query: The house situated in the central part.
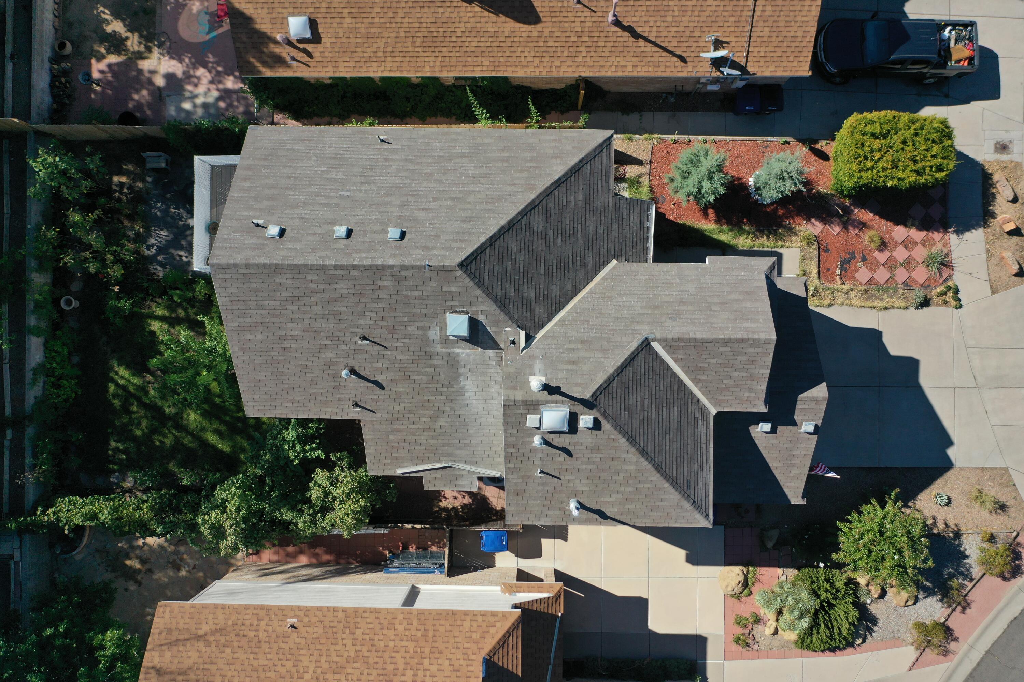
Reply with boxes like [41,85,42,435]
[192,125,828,530]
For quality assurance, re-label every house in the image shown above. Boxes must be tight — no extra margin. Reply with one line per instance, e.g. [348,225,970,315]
[137,563,565,682]
[227,0,825,98]
[192,125,828,530]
